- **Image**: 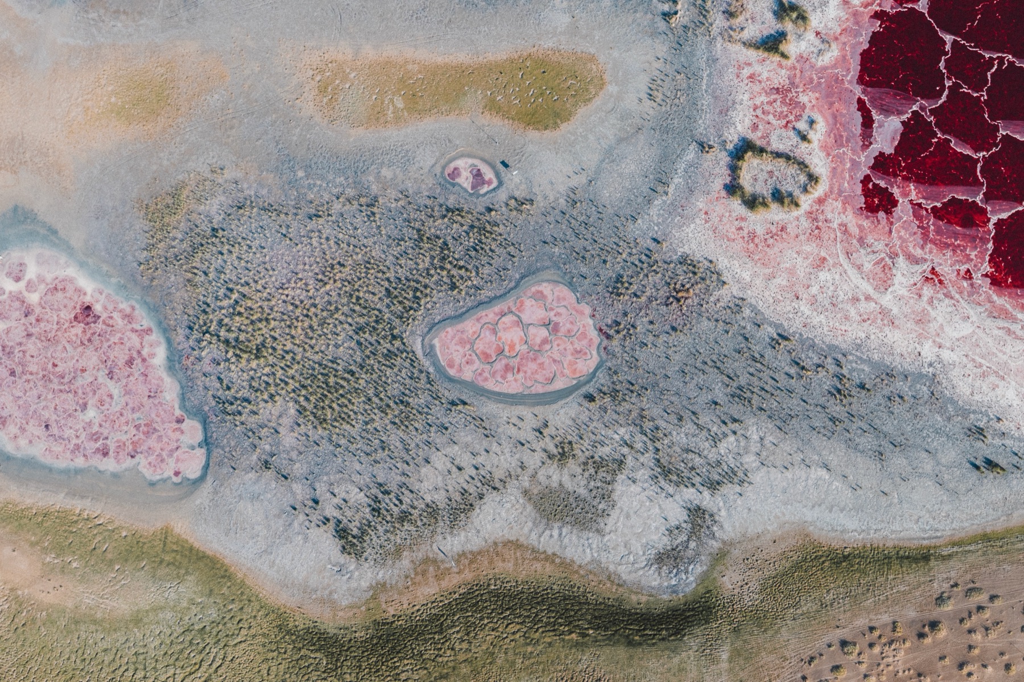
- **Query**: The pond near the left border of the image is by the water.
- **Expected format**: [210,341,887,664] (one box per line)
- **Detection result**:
[0,249,205,482]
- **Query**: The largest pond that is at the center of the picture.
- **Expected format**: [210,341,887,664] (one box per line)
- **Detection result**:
[426,275,603,404]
